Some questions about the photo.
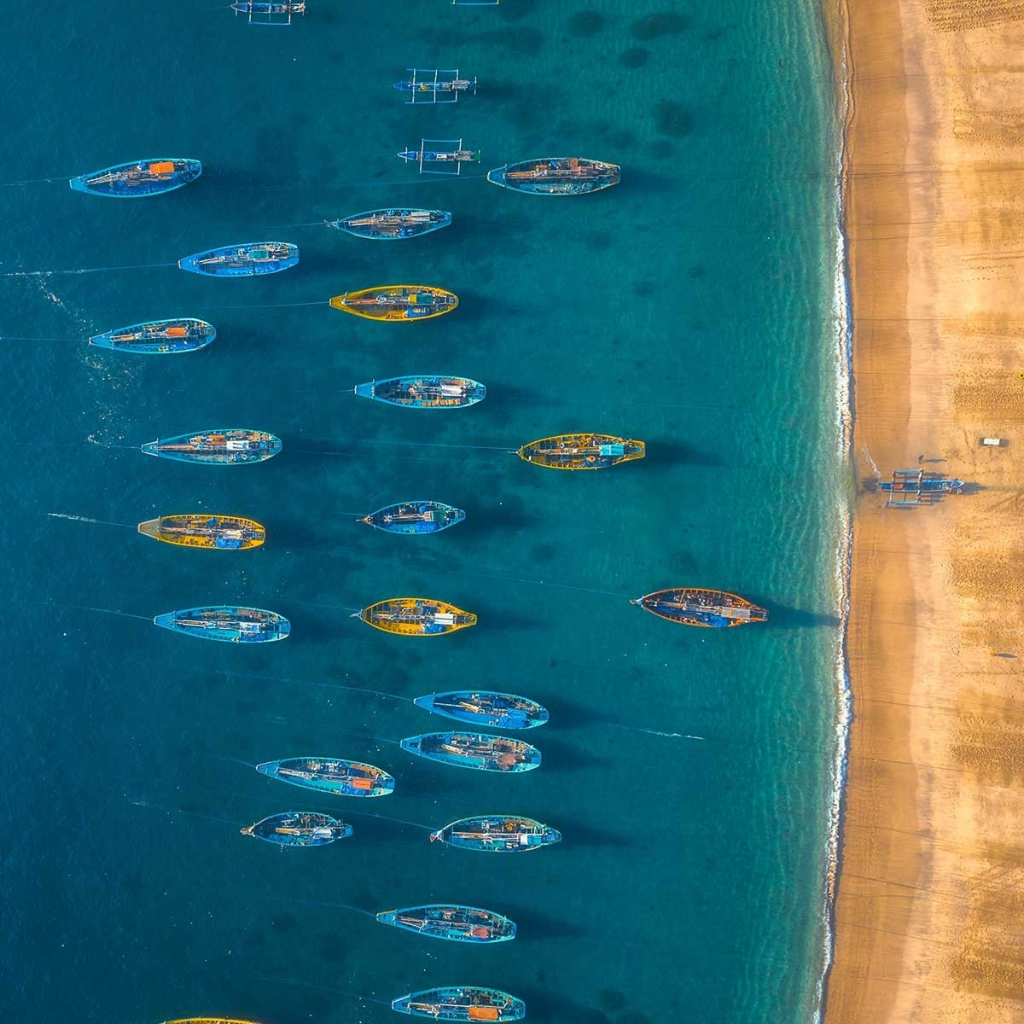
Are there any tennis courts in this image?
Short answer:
No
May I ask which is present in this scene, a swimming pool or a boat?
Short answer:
boat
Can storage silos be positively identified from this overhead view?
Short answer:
No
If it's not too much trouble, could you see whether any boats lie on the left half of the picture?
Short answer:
Yes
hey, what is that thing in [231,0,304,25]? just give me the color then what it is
blue boat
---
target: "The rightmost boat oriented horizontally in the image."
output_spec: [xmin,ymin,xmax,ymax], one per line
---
[877,469,964,504]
